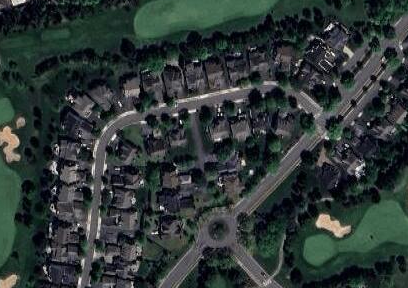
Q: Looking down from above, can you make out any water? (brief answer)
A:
No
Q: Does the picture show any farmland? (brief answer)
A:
No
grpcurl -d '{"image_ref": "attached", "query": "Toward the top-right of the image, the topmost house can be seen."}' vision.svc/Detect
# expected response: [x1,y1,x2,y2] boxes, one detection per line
[325,21,364,51]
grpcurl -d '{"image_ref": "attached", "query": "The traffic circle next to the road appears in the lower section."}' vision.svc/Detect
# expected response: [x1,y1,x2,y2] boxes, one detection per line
[196,208,239,249]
